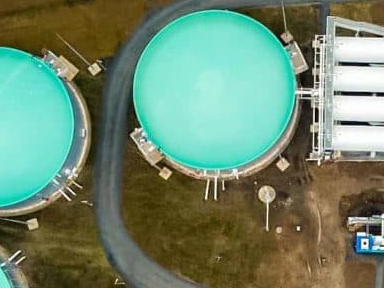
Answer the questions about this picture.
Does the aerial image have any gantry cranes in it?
No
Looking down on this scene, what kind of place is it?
industrial area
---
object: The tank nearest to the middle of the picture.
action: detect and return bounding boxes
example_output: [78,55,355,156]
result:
[127,10,311,202]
